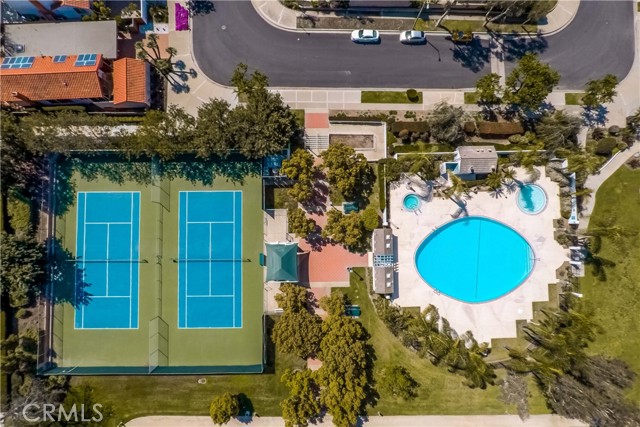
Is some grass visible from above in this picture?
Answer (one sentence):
Yes, grass can be seen from above here.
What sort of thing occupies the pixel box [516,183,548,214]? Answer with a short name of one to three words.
swimming pool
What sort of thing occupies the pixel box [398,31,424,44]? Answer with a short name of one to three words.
vehicle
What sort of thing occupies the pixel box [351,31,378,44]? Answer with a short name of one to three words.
vehicle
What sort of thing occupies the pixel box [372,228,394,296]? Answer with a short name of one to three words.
building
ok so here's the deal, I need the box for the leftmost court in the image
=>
[50,153,160,366]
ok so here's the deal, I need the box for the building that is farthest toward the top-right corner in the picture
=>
[456,147,501,173]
